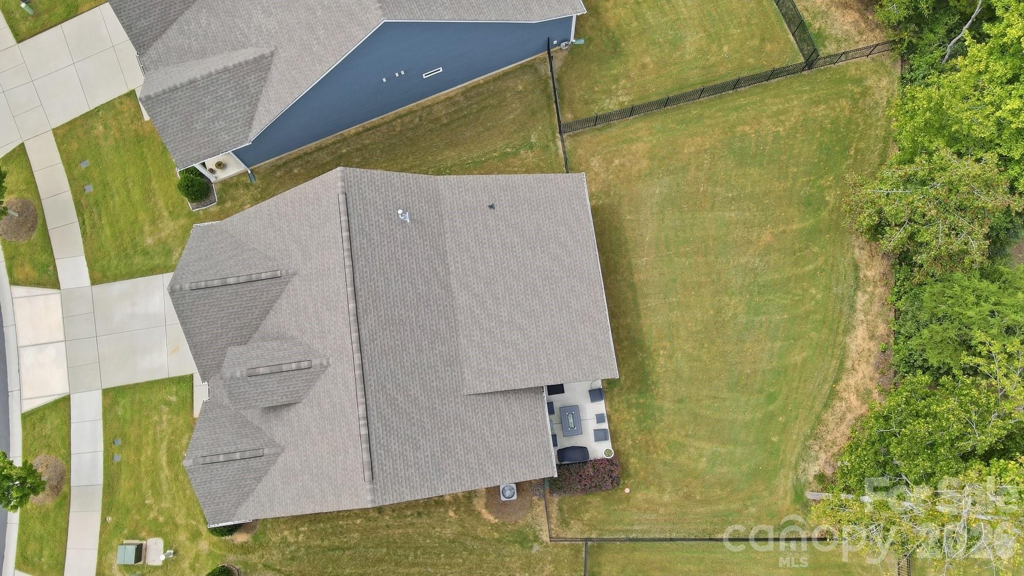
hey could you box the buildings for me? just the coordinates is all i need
[107,0,588,186]
[166,164,621,530]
